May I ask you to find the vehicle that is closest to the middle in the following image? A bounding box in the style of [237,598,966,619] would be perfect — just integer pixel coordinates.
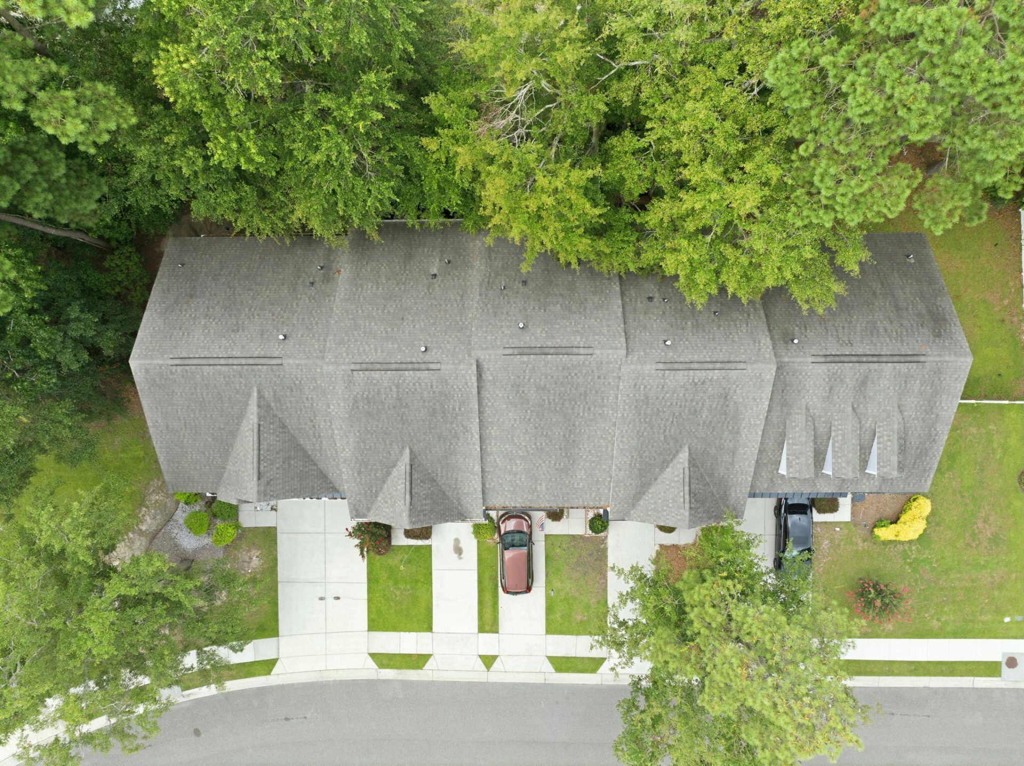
[497,512,535,595]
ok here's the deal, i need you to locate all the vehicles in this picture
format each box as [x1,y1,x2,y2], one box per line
[497,512,535,595]
[774,498,817,578]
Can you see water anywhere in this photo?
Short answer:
No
